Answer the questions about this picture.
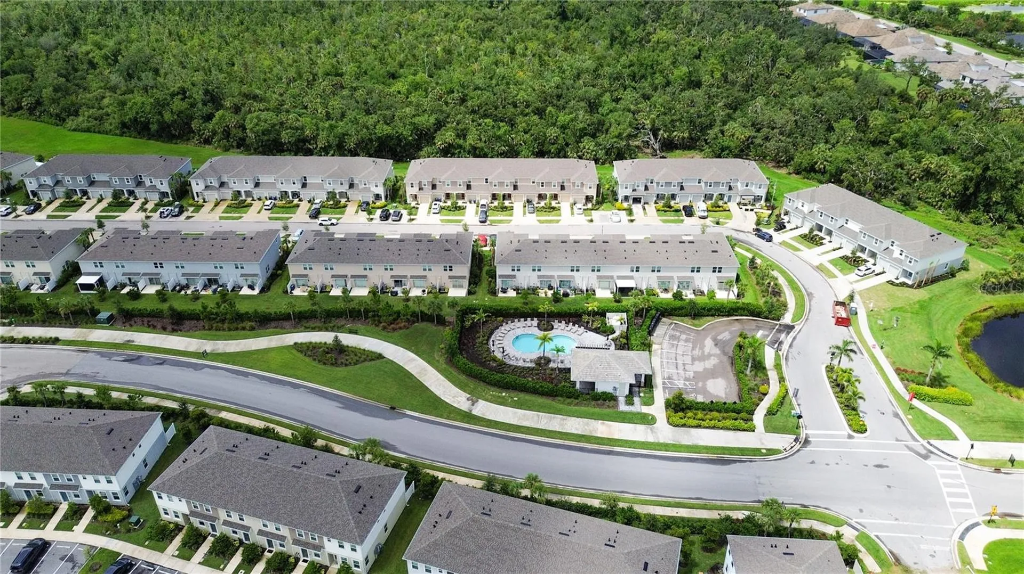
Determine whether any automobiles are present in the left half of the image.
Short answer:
Yes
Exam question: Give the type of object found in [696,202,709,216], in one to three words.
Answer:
vehicle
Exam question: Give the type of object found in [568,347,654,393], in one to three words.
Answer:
building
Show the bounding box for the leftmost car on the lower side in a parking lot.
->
[6,541,49,570]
